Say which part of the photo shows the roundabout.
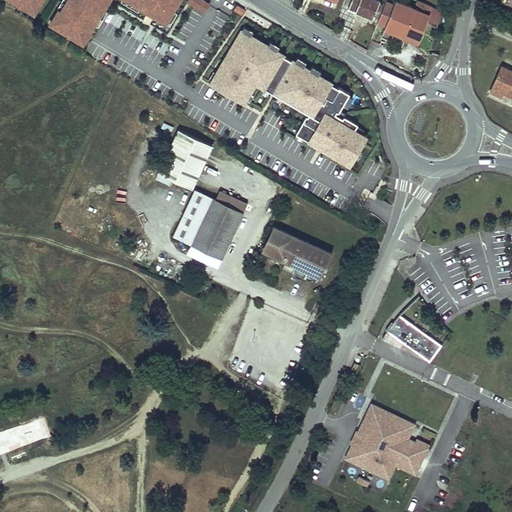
top right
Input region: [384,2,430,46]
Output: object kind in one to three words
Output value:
house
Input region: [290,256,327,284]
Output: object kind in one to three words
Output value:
solar panel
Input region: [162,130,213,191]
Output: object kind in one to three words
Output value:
shed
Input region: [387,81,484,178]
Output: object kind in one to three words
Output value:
roundabout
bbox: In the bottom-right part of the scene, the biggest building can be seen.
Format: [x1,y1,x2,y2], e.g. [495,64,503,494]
[344,400,430,484]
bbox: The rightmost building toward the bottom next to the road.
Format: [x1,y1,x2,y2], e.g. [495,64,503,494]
[387,316,442,363]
